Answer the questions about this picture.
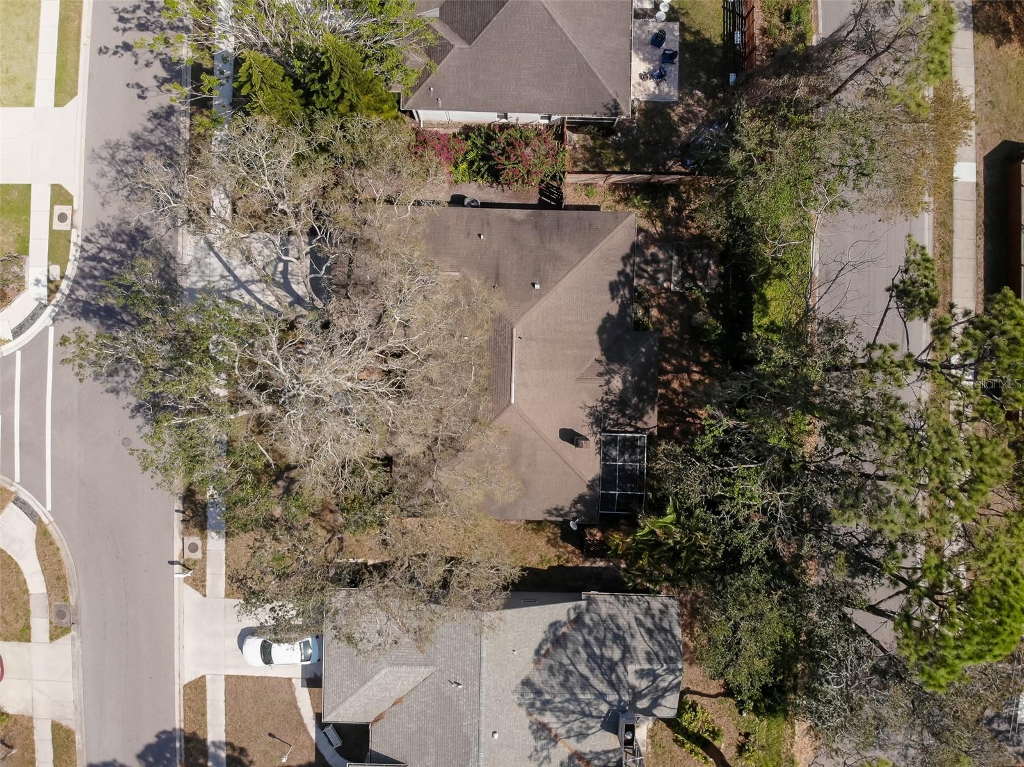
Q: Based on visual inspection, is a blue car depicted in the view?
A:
No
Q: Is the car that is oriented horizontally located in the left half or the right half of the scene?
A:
left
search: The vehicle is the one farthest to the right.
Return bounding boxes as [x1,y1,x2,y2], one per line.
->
[247,633,321,670]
